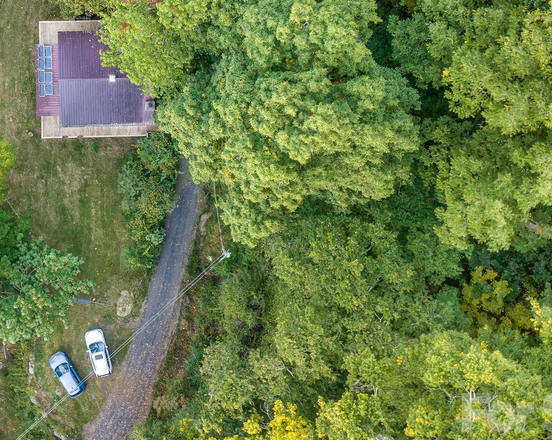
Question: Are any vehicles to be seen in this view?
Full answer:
Yes, you can see a vehicle in this photo.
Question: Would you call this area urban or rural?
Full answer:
The area shown here is rural.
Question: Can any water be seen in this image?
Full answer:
No, water can't be seen anywhere here.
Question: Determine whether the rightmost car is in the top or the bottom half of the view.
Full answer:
The rightmost car sits in the bottom half of the picture.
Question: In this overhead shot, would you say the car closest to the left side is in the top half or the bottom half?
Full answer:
The car closest to the left side is in the bottom half of the image.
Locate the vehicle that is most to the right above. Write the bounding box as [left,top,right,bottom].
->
[85,325,113,381]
